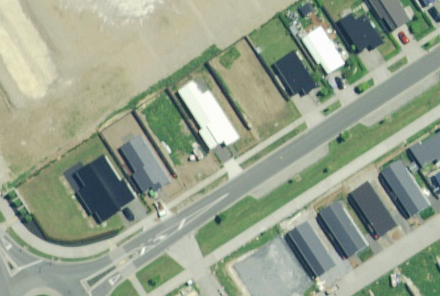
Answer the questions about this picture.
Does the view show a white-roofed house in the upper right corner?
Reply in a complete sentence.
Yes, a white-roofed house can be seen in the upper right corner.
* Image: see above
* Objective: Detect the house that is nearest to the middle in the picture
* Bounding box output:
[178,80,240,152]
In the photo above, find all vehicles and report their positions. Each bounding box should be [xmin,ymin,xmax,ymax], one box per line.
[155,202,165,218]
[398,30,410,45]
[335,75,344,90]
[123,206,135,222]
[429,6,440,22]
